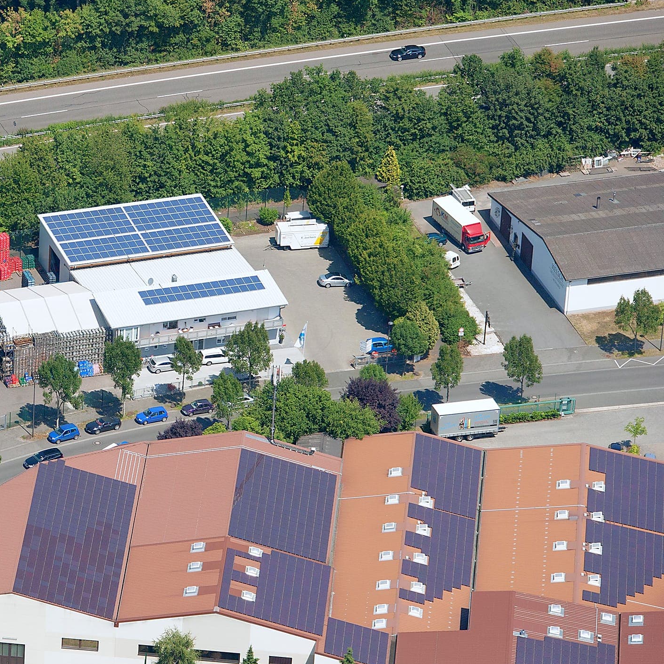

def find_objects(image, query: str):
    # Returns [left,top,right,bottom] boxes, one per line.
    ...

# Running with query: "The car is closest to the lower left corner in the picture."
[22,444,62,468]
